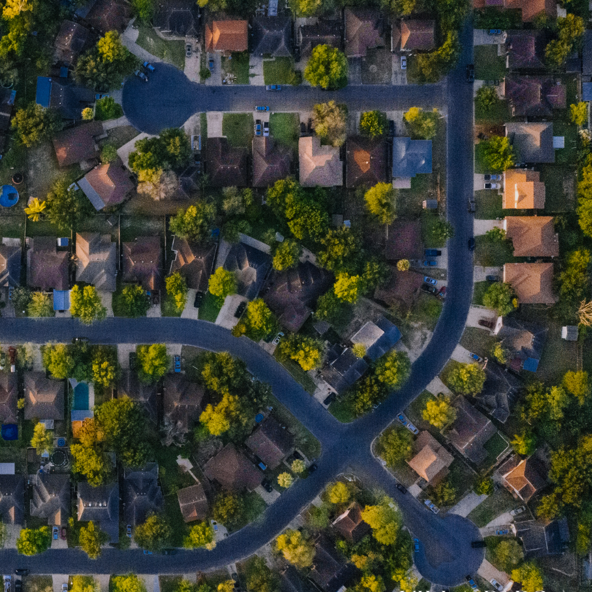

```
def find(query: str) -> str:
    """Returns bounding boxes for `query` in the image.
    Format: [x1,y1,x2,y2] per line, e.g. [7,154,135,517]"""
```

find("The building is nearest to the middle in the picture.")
[263,269,330,321]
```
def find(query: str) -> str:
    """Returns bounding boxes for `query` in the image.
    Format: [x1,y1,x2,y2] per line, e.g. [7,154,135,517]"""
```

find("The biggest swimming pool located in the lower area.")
[69,379,94,411]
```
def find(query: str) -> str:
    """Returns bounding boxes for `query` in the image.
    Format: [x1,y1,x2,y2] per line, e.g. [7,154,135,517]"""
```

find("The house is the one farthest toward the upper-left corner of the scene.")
[51,18,90,63]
